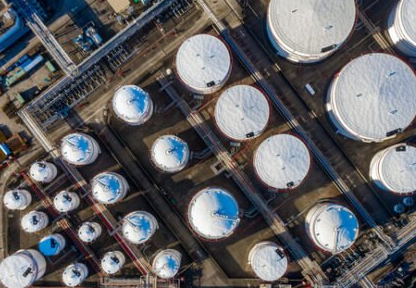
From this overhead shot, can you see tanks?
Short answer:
Yes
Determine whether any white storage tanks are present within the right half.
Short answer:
Yes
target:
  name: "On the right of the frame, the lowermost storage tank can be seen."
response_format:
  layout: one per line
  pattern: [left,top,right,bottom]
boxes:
[248,240,289,283]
